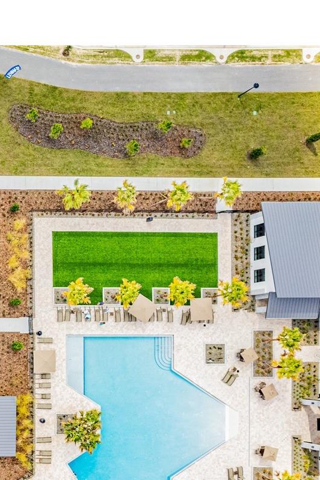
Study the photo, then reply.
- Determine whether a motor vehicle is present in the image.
No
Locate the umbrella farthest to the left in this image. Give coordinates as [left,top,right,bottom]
[34,351,55,372]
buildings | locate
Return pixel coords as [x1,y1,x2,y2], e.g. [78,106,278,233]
[251,202,320,318]
[0,396,16,456]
